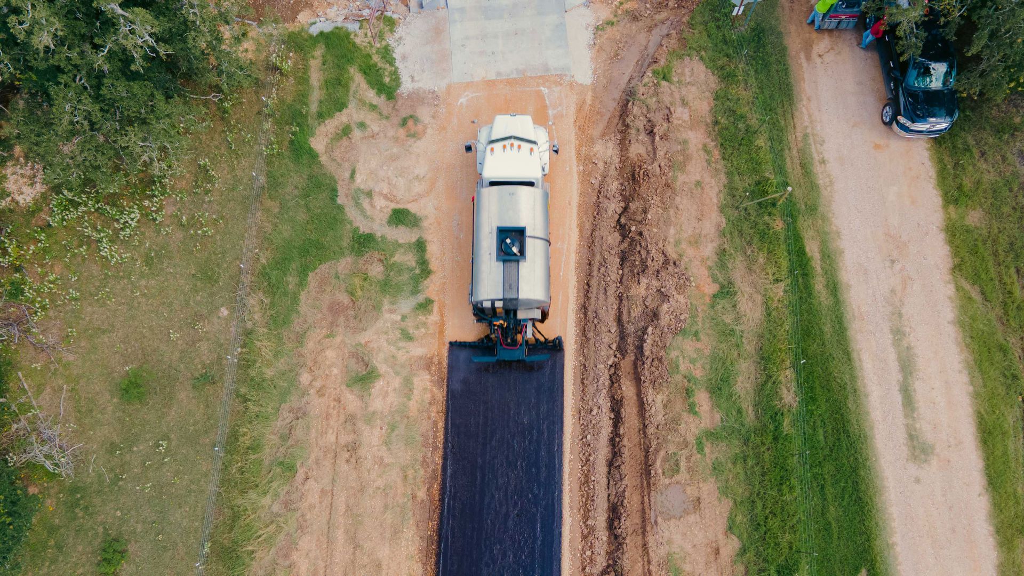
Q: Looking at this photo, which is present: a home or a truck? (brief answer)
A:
truck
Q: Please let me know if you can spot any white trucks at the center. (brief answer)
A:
Yes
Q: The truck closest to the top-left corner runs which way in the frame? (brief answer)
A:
from top to bottom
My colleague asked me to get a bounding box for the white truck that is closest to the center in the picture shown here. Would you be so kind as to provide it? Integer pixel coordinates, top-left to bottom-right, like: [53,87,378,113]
[448,112,565,369]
